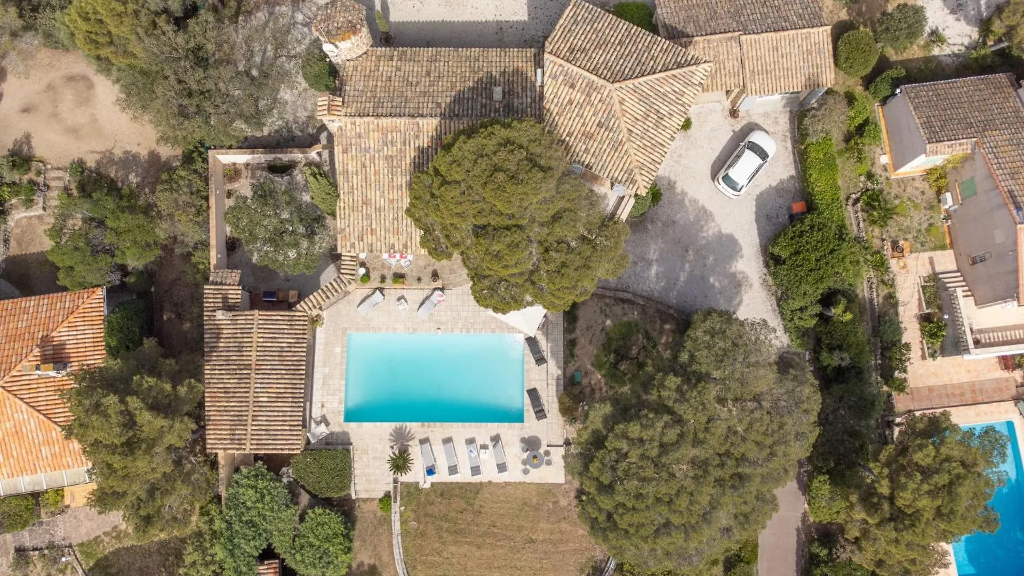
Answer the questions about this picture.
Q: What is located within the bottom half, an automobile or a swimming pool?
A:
swimming pool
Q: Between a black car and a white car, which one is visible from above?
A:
white car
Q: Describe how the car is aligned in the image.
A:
at an angle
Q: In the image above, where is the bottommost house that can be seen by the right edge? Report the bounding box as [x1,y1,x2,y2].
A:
[880,71,1024,306]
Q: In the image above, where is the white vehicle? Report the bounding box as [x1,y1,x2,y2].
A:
[716,130,776,200]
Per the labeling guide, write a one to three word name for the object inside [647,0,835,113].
building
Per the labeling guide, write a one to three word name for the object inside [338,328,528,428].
swimming pool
